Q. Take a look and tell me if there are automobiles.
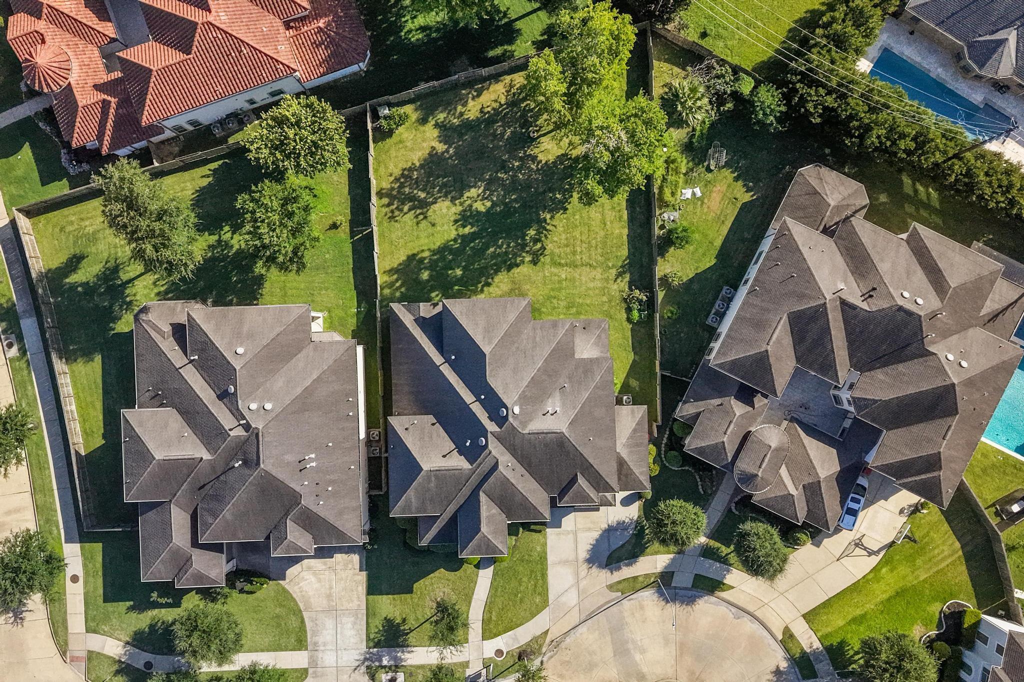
Yes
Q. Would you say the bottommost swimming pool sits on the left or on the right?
right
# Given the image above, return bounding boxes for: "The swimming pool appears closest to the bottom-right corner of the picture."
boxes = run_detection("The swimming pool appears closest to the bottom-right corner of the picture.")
[984,327,1024,456]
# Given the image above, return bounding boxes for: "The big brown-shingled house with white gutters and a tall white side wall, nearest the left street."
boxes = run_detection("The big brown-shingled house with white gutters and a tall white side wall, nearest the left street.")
[122,300,376,588]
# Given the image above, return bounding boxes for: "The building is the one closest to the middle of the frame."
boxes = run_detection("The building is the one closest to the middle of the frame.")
[387,297,651,557]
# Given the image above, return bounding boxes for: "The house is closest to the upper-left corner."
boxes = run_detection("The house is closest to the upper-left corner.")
[6,0,376,159]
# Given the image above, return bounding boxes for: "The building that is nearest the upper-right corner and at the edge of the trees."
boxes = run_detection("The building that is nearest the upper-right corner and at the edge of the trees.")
[891,0,1024,104]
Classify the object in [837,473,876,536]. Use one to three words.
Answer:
car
